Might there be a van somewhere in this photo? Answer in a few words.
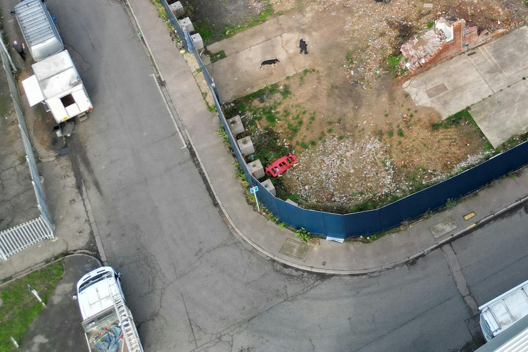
Yes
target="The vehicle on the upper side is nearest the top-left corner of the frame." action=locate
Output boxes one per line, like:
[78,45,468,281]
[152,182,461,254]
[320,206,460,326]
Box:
[16,5,67,64]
